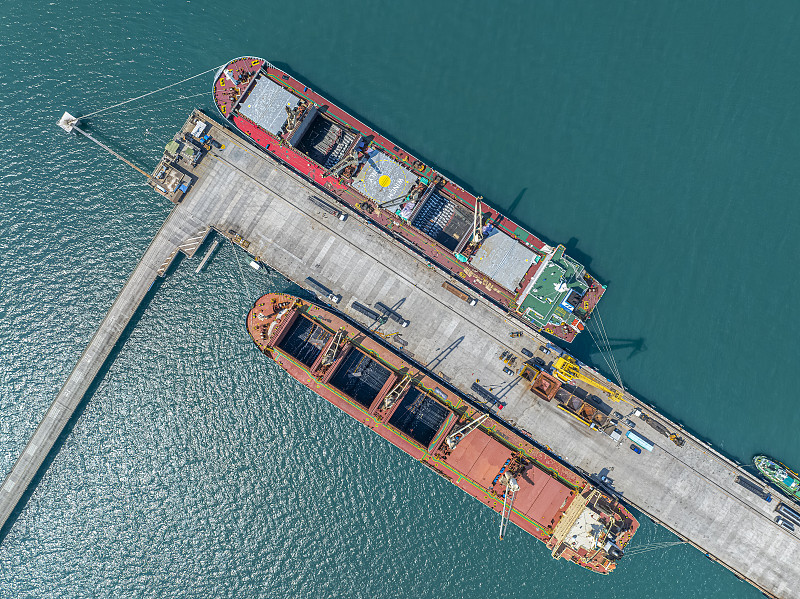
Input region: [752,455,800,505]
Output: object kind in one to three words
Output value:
boat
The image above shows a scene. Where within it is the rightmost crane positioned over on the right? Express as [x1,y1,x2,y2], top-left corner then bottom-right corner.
[542,347,626,403]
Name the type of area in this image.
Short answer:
port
